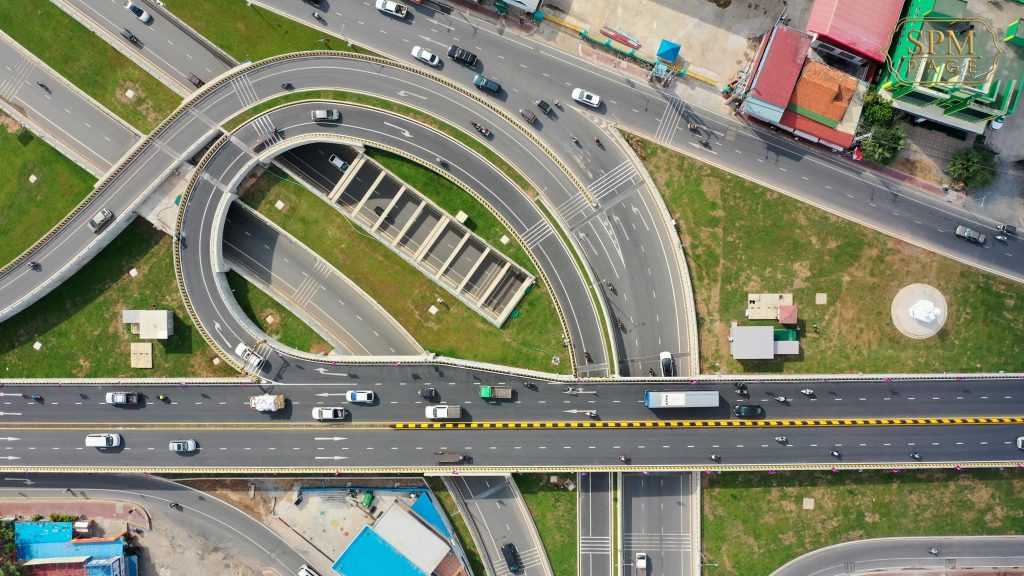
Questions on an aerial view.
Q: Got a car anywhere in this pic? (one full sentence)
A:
Yes, looking at the shot, I can spot a car.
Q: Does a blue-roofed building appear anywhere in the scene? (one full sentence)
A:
Yes, the photo shows a blue-roofed building.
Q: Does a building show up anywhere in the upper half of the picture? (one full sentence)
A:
Yes, a building can be seen in the upper half of the picture.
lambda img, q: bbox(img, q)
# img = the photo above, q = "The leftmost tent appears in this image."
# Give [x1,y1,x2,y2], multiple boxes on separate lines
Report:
[656,39,681,64]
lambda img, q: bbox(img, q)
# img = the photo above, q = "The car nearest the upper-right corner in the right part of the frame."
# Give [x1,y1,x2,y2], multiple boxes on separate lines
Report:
[987,118,1005,138]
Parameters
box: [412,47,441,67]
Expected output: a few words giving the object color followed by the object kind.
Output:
white car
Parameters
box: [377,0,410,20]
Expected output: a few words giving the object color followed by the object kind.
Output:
white vehicle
